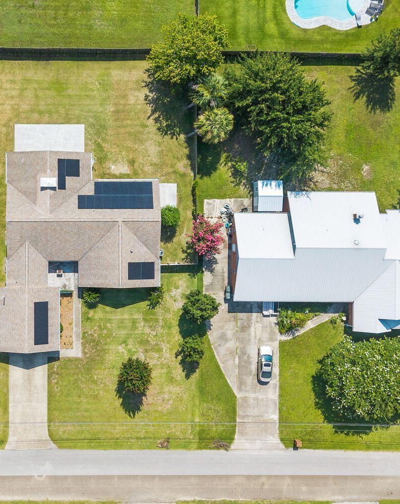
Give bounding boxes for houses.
[231,191,400,334]
[0,150,161,354]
